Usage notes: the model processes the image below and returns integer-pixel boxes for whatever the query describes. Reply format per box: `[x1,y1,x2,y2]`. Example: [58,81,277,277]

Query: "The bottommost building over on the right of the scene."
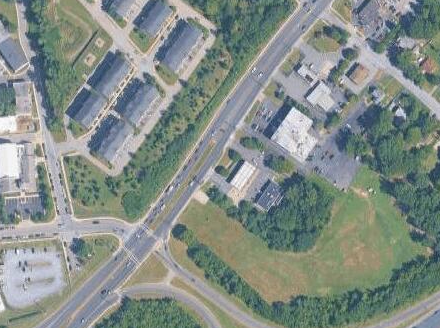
[255,183,283,212]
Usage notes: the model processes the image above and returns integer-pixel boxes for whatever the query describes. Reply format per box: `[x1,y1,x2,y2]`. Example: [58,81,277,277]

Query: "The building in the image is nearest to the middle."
[230,161,257,191]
